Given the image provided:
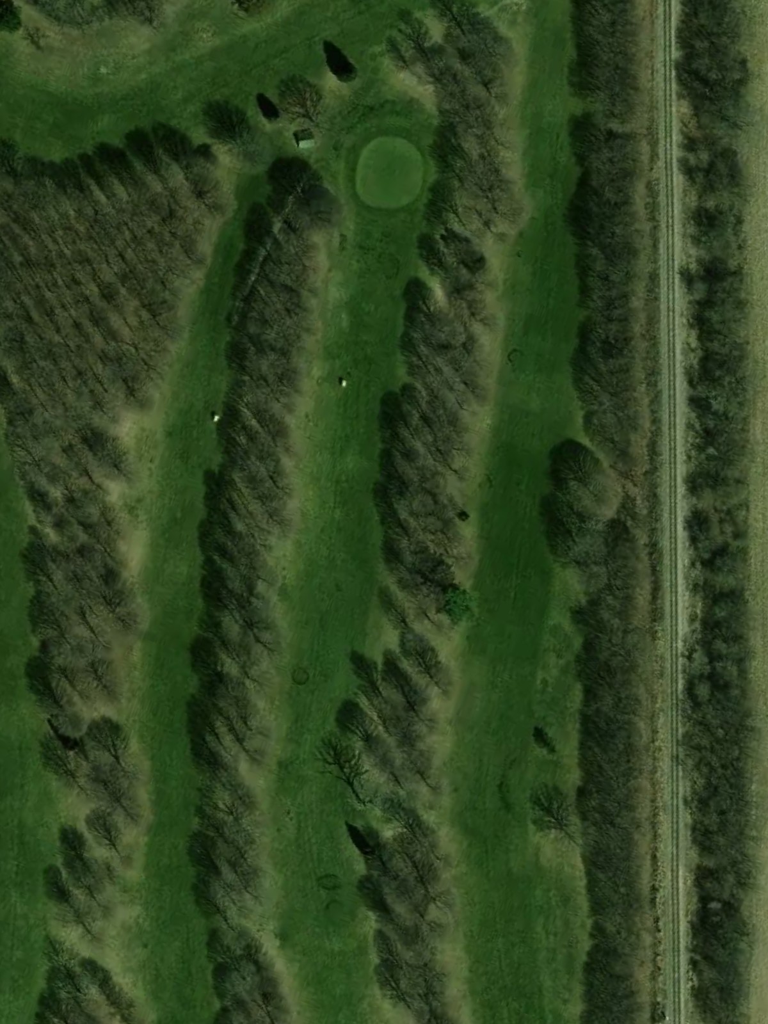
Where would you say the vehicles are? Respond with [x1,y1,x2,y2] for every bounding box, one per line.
[341,379,346,387]
[213,413,220,421]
